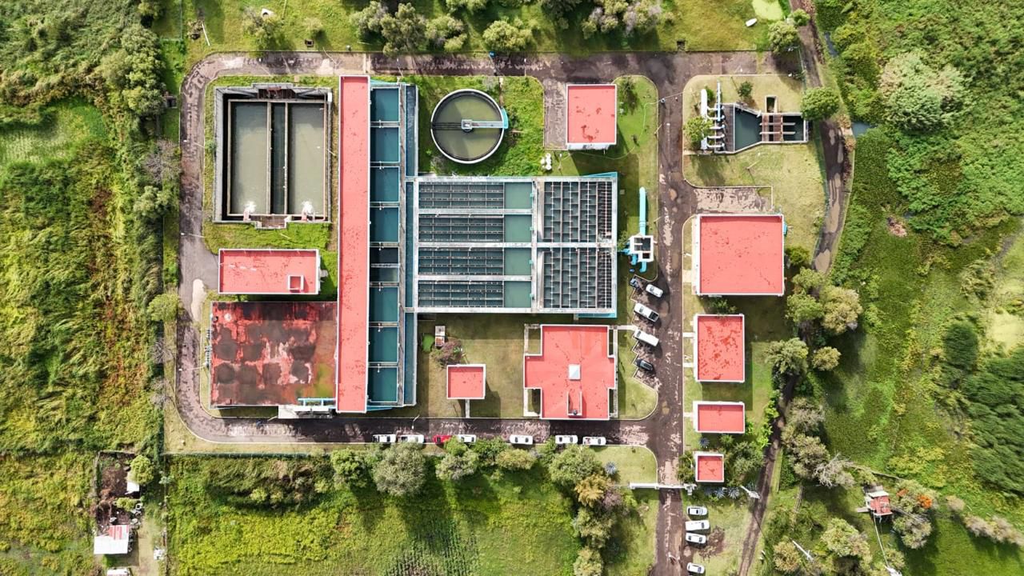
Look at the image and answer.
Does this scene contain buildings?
Yes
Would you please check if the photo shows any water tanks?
Yes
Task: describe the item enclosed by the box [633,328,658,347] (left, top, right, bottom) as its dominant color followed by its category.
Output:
white vehicle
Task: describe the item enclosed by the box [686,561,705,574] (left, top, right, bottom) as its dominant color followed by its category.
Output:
white vehicle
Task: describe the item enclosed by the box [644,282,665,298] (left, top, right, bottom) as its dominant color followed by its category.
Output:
white car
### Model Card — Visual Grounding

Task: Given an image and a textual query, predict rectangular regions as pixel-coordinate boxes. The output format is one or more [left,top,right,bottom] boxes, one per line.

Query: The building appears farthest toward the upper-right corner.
[694,214,790,296]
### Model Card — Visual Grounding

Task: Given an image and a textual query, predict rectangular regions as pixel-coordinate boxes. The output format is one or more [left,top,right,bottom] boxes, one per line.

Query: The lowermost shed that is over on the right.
[848,481,891,517]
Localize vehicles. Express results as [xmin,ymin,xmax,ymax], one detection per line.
[686,506,707,517]
[644,282,665,298]
[684,519,710,531]
[686,561,705,574]
[582,435,605,445]
[510,434,532,444]
[458,434,477,443]
[401,433,425,444]
[555,434,577,445]
[635,358,654,373]
[685,533,706,545]
[373,433,397,444]
[633,328,658,347]
[629,276,644,290]
[634,303,659,322]
[434,434,453,443]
